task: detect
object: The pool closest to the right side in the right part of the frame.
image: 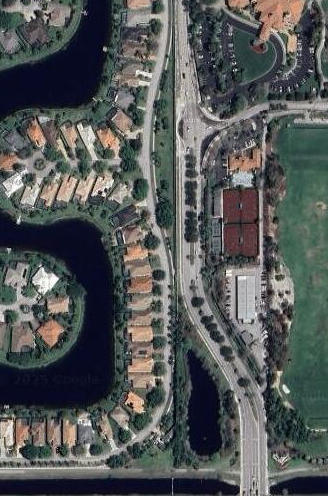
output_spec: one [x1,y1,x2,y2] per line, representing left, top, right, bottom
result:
[231,174,253,186]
